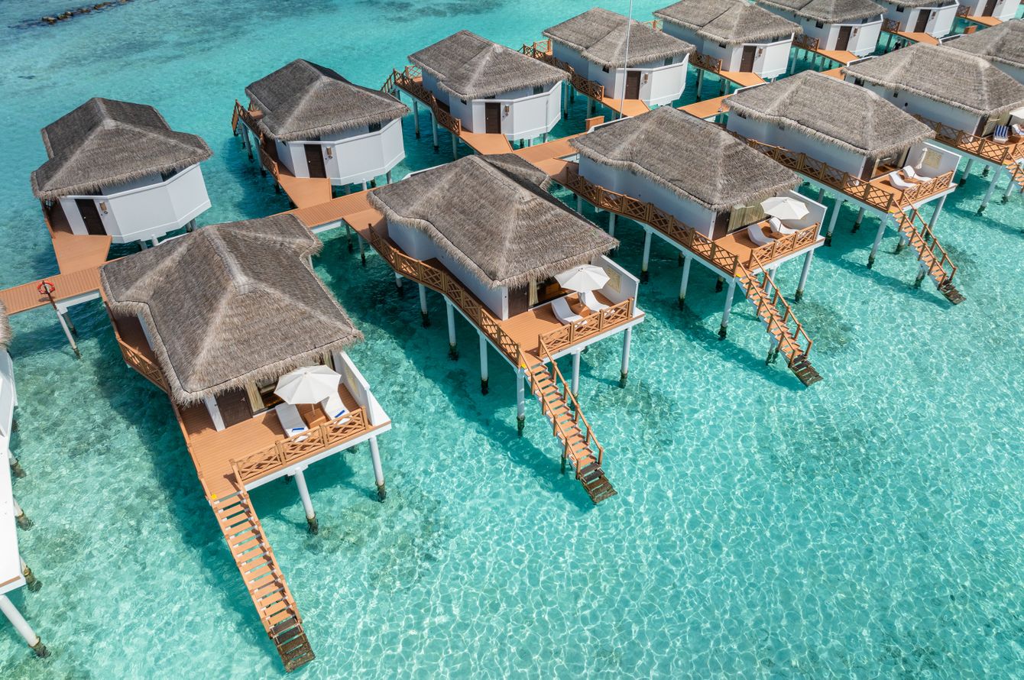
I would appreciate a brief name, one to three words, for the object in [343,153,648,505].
house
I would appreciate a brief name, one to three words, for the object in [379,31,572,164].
house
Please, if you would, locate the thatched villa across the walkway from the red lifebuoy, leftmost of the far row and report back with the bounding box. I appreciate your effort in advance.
[27,92,215,272]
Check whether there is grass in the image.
No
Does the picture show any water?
Yes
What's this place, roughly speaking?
residential area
